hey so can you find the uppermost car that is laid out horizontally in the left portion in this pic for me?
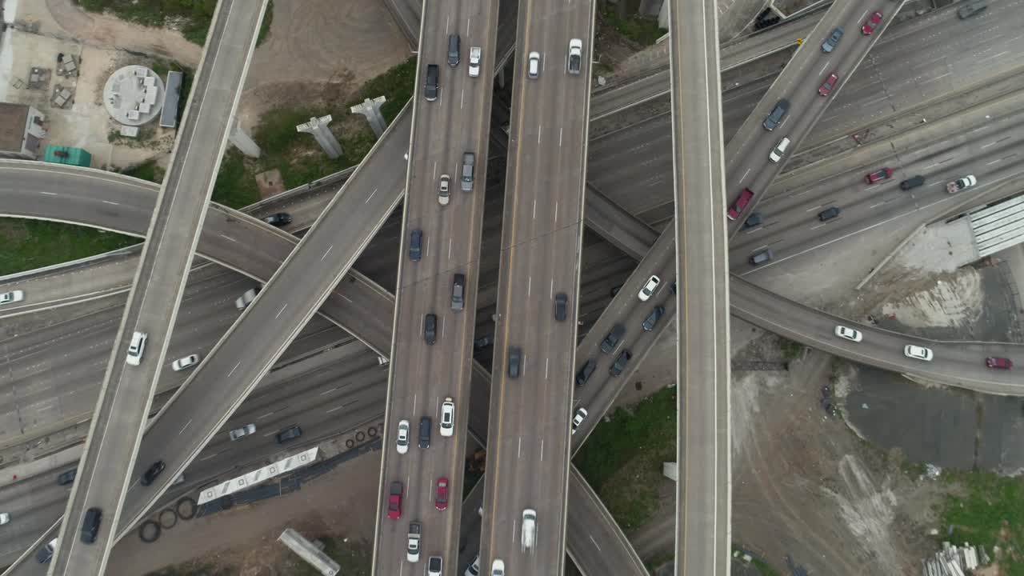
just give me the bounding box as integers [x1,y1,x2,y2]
[263,211,290,226]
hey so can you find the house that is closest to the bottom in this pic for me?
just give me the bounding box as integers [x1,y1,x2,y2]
[0,103,55,161]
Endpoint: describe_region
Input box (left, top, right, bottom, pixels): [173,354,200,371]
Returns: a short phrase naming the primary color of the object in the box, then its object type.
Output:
white car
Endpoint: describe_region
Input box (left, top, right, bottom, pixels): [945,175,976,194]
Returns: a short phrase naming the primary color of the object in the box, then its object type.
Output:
white vehicle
